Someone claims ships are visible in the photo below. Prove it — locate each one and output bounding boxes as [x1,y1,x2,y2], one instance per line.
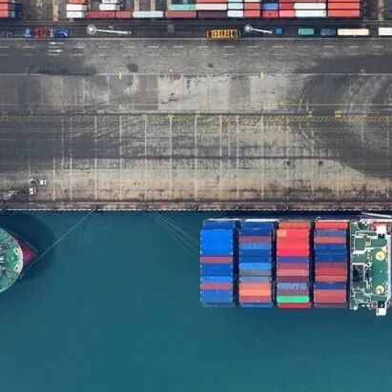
[0,227,42,291]
[205,214,392,317]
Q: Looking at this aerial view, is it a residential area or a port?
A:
port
